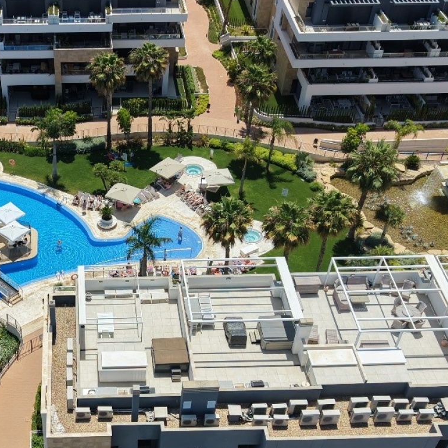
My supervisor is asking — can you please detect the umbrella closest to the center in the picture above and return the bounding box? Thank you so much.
[197,170,238,193]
